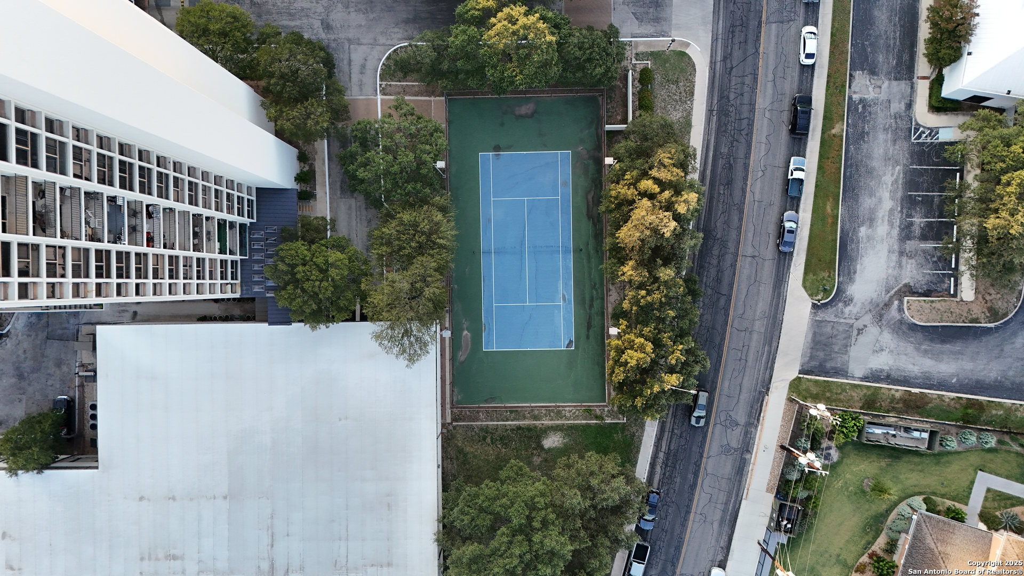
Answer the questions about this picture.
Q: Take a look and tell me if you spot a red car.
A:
No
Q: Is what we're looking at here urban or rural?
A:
urban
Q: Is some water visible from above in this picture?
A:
No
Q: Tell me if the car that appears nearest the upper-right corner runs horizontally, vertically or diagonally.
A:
vertically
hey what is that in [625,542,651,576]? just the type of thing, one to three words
truck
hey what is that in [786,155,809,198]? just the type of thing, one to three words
truck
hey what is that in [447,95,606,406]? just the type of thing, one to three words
tennis court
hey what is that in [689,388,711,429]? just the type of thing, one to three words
car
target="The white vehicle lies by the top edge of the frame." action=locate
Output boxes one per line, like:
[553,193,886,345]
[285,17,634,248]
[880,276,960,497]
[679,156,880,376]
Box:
[799,24,822,66]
